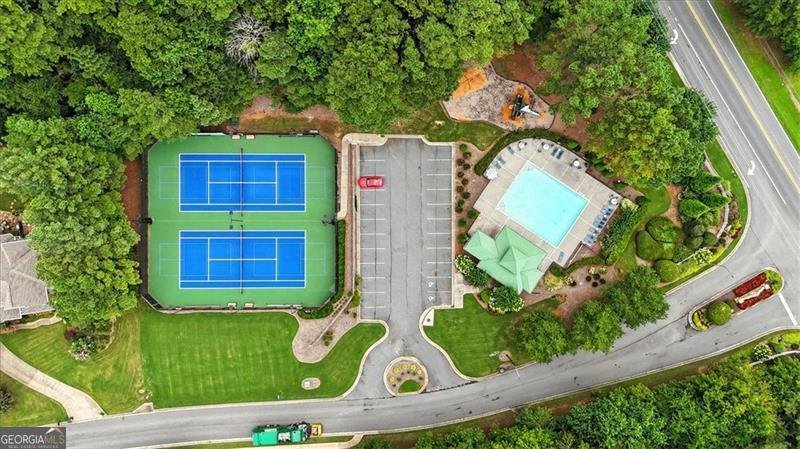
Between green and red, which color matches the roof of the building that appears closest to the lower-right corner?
green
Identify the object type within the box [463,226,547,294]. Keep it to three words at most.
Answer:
building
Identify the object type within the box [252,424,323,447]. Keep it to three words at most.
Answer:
truck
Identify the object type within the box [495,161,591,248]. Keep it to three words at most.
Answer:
swimming pool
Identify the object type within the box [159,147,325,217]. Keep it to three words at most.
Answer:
tennis court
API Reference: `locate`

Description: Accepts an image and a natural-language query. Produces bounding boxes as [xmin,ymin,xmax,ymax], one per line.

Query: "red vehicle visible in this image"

[358,175,384,188]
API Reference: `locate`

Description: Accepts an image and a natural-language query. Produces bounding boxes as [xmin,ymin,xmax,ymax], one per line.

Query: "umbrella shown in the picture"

[487,166,500,179]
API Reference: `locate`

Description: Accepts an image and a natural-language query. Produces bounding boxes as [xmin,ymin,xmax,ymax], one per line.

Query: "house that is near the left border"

[0,233,56,322]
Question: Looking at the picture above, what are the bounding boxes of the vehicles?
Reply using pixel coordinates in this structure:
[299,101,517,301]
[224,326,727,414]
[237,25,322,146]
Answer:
[252,424,323,447]
[358,175,384,188]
